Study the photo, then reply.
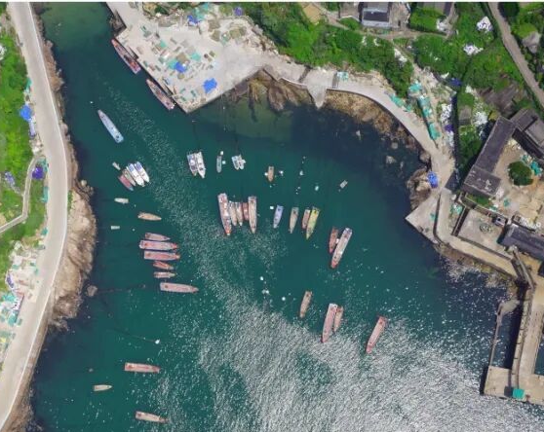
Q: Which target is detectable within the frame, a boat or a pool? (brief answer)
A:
boat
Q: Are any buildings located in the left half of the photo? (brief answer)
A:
No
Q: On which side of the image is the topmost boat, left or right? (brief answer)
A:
left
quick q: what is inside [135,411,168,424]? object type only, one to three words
boat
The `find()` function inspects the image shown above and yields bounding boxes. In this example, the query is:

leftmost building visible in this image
[339,2,359,21]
